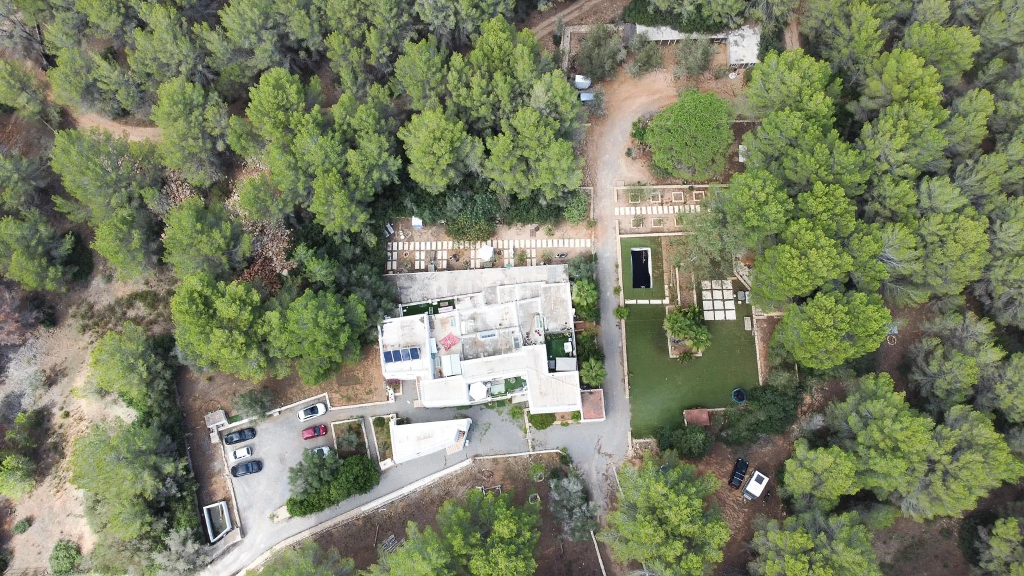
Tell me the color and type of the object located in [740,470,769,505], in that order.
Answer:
white camper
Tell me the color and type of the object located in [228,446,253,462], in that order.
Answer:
white car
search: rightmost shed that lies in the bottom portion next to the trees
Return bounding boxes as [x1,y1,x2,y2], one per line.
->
[684,408,710,426]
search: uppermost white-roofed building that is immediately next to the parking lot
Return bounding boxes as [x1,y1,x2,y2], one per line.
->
[378,264,604,423]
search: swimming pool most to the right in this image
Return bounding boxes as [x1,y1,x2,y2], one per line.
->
[631,248,653,288]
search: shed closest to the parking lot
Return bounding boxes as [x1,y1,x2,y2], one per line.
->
[205,410,233,444]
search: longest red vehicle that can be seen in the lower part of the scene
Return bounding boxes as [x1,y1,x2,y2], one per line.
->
[301,424,328,440]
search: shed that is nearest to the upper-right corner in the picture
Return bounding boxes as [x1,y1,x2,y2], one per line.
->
[728,25,760,74]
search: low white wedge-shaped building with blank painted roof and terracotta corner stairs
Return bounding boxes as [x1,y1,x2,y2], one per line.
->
[378,414,474,470]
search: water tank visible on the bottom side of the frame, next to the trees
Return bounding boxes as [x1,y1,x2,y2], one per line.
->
[204,501,236,542]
